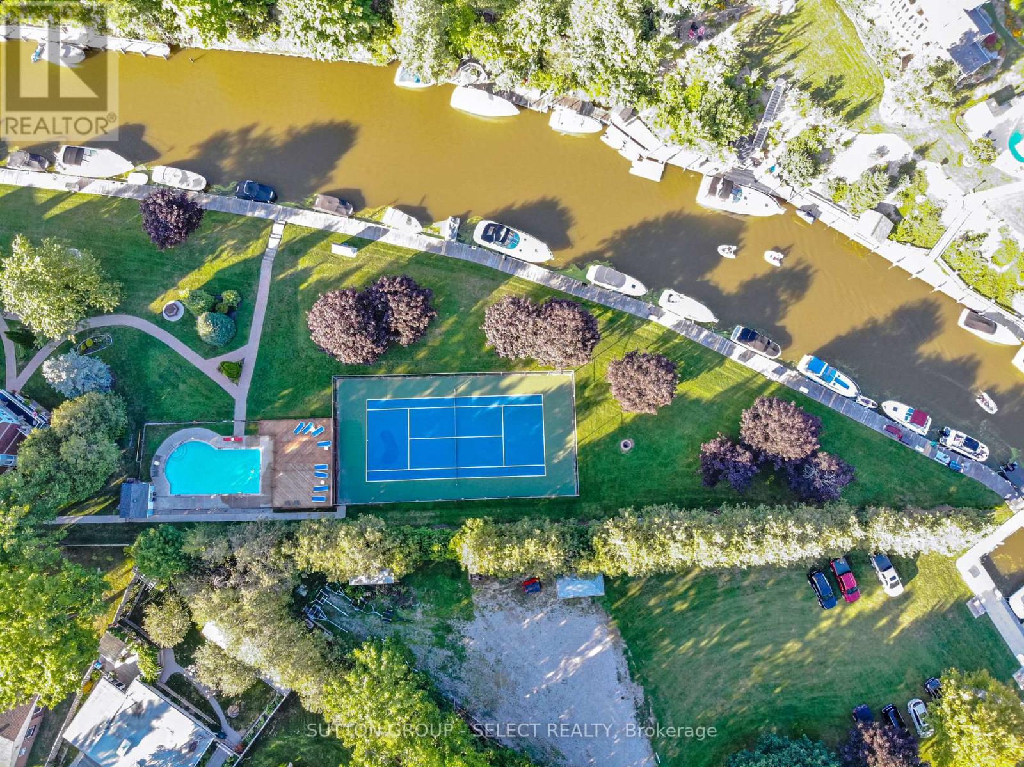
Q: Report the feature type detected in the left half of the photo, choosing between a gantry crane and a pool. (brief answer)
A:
pool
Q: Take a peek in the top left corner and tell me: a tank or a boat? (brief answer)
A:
boat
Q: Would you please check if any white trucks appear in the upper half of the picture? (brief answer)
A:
No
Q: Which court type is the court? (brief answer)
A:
tennis court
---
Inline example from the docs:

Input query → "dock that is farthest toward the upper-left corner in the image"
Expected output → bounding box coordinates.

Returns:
[0,27,171,59]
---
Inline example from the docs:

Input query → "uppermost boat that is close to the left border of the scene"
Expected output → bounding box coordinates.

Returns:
[39,44,87,66]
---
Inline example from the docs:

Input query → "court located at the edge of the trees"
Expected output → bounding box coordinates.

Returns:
[337,374,576,503]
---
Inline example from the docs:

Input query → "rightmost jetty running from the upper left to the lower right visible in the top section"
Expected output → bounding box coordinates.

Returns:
[782,183,1024,341]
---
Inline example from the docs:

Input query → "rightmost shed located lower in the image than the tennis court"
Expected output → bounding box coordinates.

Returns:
[555,572,604,599]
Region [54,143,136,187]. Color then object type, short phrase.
white boat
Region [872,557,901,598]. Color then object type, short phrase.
white truck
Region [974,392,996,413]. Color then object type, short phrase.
white boat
